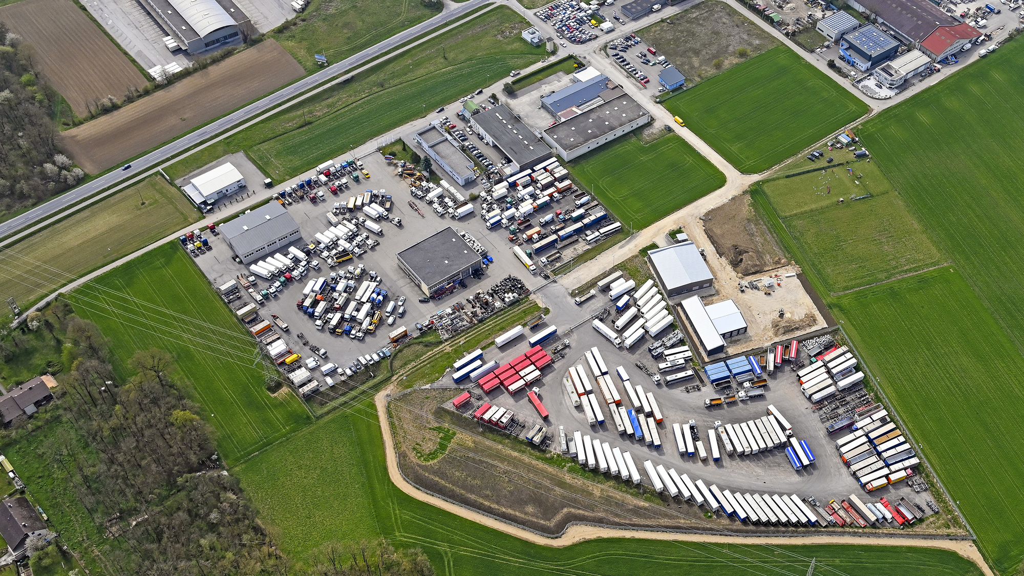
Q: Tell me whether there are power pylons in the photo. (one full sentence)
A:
Yes, the photo shows a power pylon.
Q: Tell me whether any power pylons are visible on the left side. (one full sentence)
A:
Yes, a power pylon appears on the left side.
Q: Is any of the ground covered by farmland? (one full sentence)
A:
Yes, there's farmland in this view.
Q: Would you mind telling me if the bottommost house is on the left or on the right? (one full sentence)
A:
The bottommost house appears in the left half of the scene.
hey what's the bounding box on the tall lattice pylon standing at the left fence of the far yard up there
[254,338,281,391]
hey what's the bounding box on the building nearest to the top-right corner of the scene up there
[921,23,981,66]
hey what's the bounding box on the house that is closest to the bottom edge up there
[0,492,50,555]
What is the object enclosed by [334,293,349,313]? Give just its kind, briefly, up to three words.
vehicle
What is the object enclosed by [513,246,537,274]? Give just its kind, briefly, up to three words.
truck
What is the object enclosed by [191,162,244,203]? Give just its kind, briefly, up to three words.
building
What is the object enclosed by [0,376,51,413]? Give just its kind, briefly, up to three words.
house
